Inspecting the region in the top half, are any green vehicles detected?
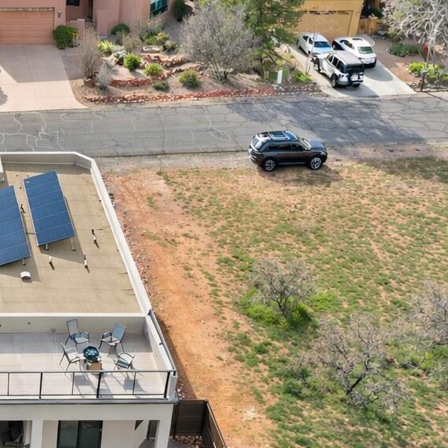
No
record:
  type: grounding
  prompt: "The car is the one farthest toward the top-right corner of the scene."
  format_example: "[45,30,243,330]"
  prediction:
[336,39,377,65]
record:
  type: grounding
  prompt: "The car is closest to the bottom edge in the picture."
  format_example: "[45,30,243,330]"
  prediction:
[245,133,333,172]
